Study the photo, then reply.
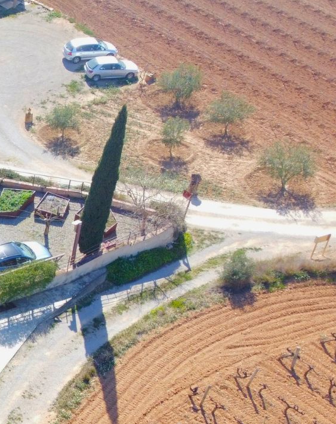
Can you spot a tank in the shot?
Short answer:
No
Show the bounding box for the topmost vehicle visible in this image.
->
[57,34,120,64]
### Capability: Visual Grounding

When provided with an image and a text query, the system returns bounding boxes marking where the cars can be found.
[57,34,120,64]
[0,240,54,276]
[80,52,143,81]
